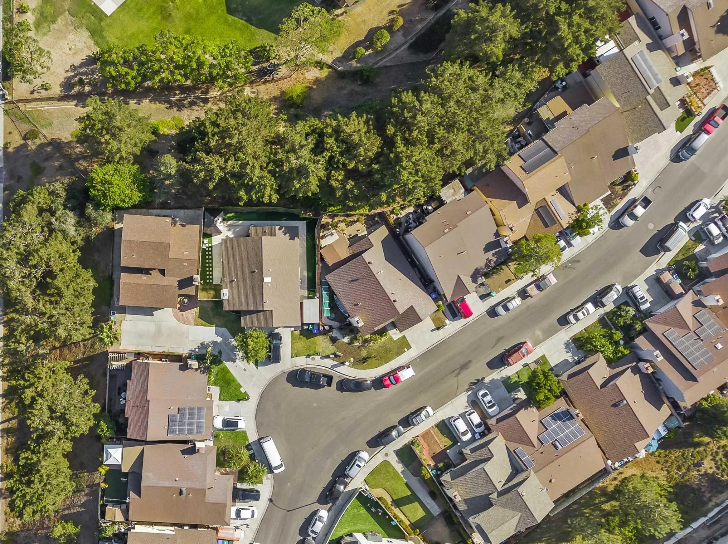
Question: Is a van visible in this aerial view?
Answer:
Yes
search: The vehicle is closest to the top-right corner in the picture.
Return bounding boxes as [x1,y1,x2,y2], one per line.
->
[695,105,728,135]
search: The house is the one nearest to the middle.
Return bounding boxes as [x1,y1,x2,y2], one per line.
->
[325,225,438,335]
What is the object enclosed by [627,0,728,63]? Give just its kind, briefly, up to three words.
house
